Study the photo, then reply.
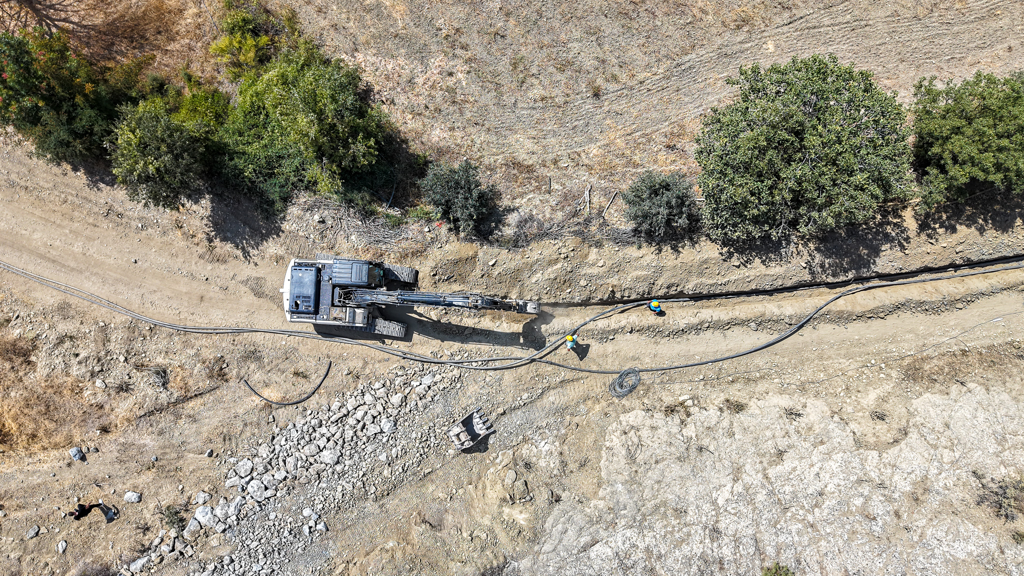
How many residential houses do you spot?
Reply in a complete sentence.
The picture shows no residential houses.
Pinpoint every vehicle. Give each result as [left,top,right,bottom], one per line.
[279,253,540,334]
